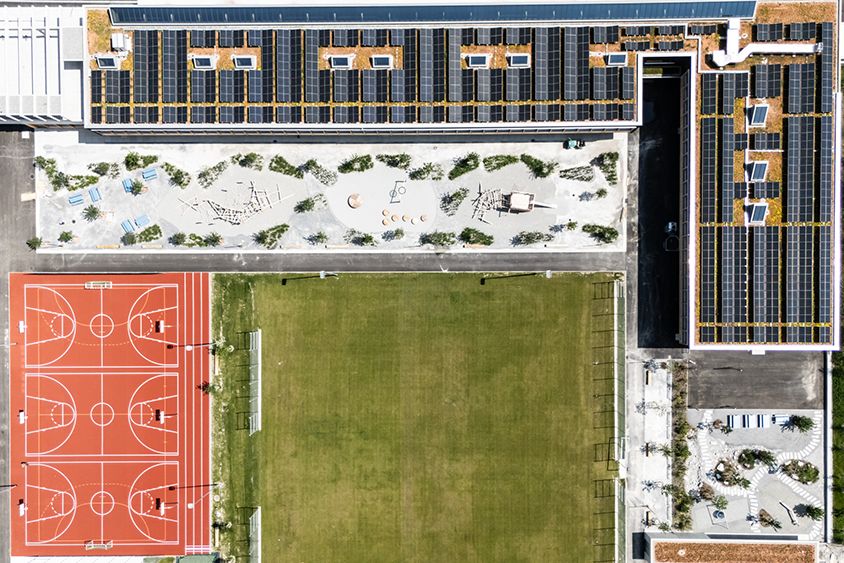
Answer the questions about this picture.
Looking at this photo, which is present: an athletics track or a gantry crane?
athletics track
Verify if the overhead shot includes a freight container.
No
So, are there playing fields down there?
Yes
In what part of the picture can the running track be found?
bottom left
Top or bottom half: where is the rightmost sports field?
bottom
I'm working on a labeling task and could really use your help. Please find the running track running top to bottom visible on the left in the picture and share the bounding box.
[184,273,210,552]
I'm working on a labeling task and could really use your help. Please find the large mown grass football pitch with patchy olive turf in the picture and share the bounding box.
[256,275,619,563]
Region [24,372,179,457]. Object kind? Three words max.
basketball court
